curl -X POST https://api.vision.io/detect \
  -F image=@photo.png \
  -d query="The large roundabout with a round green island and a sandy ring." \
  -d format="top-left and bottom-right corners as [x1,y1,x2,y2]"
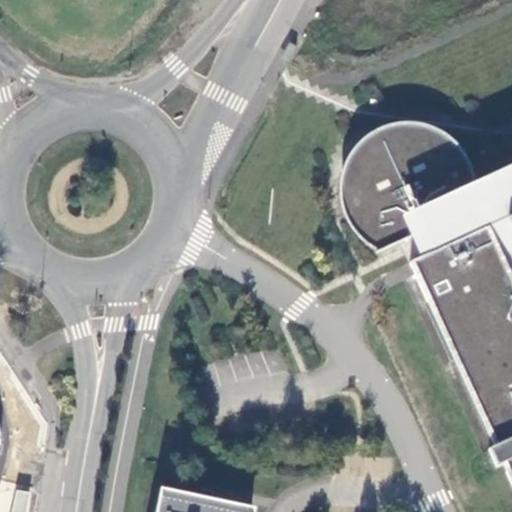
[0,86,202,307]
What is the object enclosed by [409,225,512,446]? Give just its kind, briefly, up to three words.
building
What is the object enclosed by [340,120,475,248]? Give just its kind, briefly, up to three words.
building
